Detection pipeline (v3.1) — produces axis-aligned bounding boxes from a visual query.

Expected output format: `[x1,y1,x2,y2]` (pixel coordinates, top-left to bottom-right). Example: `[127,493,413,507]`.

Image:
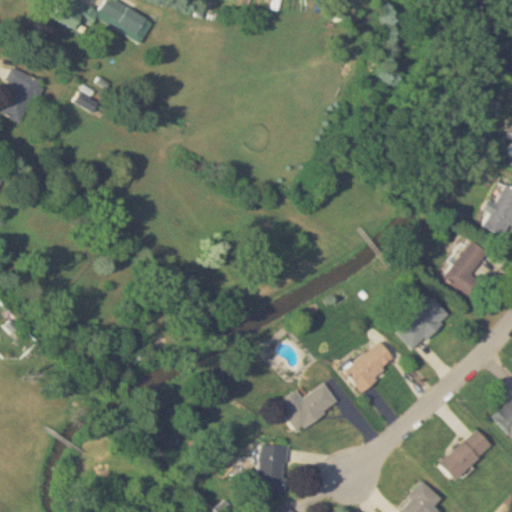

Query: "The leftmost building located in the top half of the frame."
[1,68,44,124]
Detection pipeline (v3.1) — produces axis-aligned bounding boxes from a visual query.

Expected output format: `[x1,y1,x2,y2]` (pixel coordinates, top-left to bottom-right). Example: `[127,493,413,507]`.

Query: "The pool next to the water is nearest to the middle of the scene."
[266,326,317,383]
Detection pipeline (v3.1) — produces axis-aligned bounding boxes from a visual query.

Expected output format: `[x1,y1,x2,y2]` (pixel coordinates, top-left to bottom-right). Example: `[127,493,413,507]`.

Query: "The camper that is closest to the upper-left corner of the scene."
[77,84,94,98]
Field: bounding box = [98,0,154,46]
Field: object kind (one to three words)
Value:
barn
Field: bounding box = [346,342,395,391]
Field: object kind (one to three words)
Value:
house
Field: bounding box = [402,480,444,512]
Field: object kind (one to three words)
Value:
house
